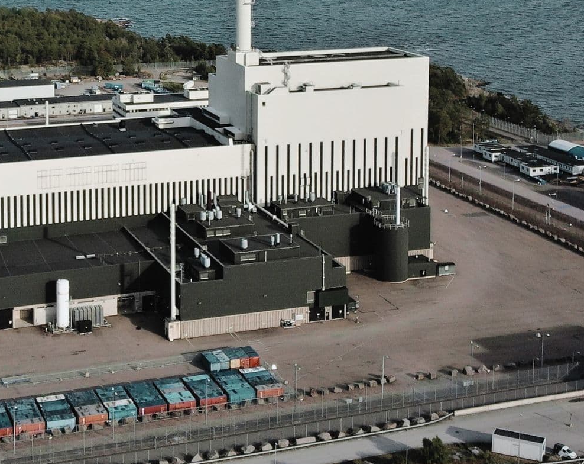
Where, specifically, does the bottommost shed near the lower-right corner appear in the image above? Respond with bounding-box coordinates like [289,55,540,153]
[491,425,544,460]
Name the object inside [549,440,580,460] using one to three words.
vehicle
